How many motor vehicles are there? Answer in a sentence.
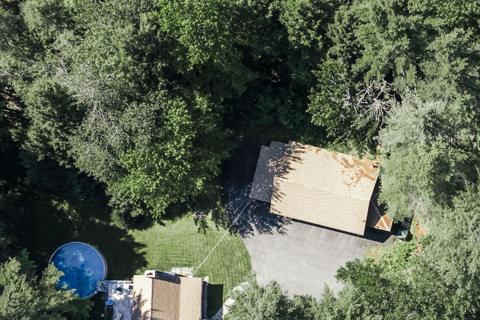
I count no motor vehicles.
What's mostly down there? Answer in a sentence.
The largest share of the image is taken up by trees.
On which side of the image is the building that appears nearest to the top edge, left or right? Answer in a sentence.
It is on the right.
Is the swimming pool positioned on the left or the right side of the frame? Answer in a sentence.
The swimming pool appears in the left half of the scene.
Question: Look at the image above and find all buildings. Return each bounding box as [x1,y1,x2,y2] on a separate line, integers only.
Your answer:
[249,140,391,236]
[133,269,205,320]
